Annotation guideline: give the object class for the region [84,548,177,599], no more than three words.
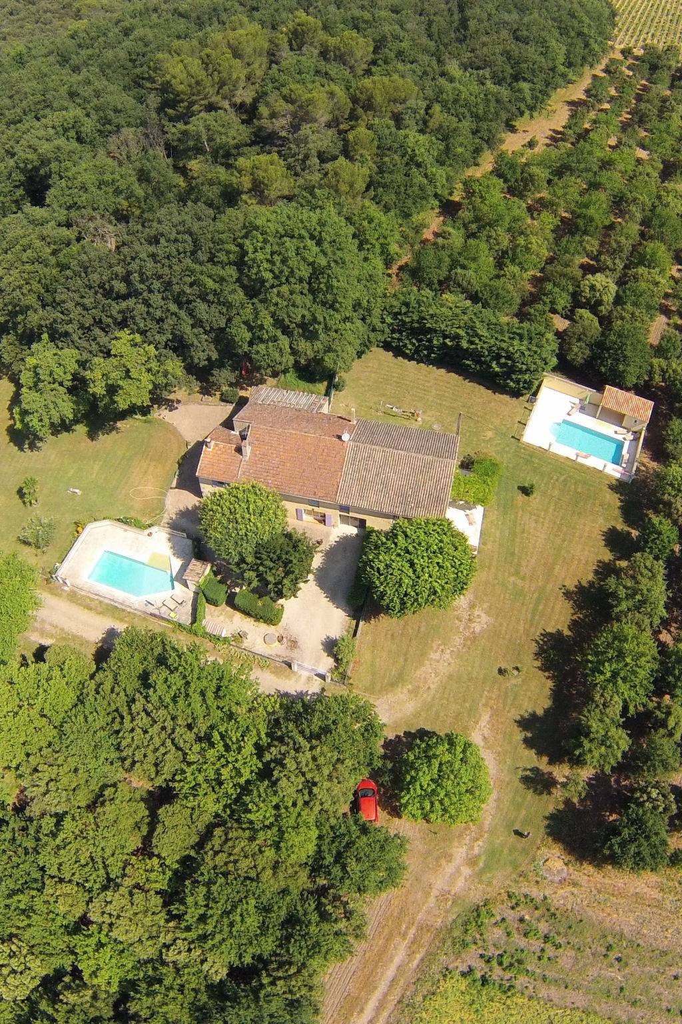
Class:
swimming pool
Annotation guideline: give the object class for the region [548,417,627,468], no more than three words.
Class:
swimming pool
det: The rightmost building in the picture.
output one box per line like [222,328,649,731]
[598,385,654,432]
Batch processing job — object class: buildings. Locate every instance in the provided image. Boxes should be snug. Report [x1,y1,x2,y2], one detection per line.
[598,385,654,432]
[195,386,460,541]
[183,558,211,592]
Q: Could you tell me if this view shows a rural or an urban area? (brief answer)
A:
rural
